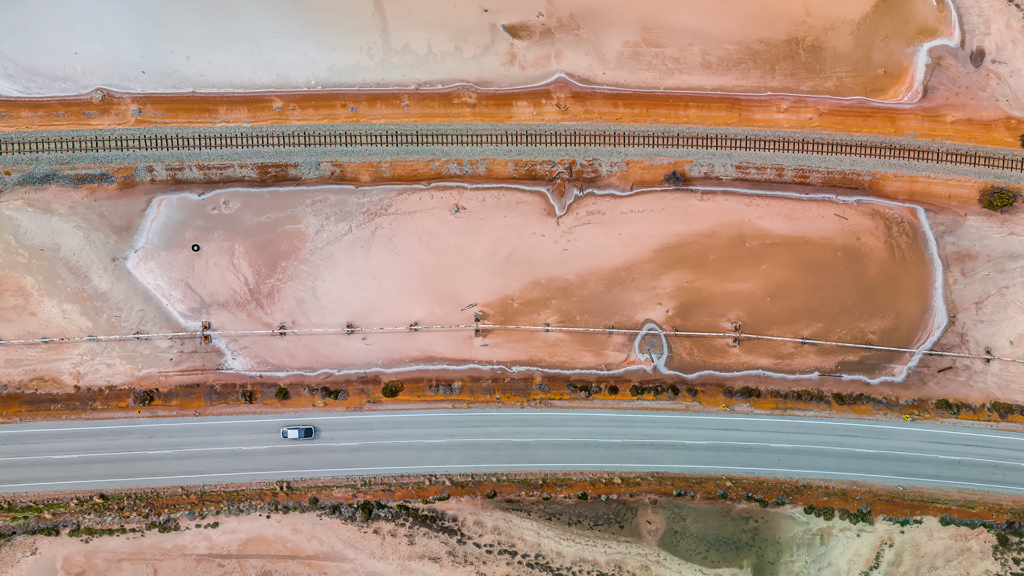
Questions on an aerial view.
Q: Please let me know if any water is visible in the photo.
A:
Yes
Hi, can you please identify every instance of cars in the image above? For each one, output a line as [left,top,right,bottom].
[278,426,314,443]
